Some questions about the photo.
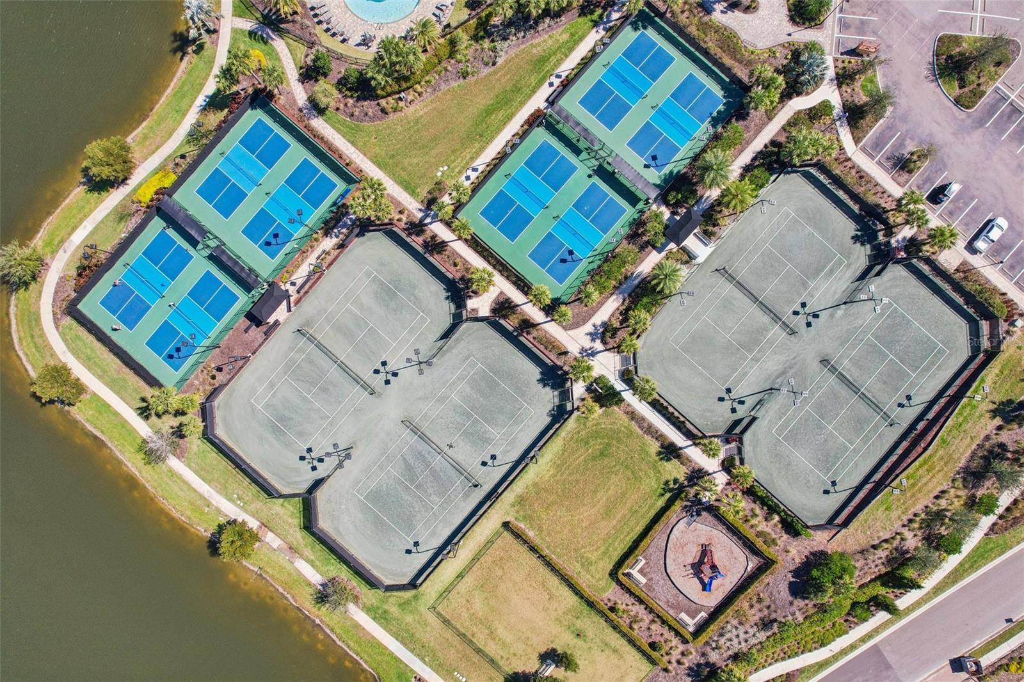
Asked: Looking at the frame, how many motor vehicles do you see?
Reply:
2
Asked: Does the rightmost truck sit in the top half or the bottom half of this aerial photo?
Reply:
top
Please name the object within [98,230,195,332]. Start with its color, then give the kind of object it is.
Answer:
blue sports court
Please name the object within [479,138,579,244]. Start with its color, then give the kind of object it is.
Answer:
blue sports court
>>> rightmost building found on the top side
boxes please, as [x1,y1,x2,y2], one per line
[663,208,703,247]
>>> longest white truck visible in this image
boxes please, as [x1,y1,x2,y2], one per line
[971,217,1011,257]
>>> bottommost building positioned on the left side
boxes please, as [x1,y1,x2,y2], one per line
[251,281,293,322]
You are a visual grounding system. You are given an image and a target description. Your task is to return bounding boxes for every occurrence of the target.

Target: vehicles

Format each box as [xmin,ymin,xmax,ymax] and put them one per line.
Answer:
[971,217,1011,257]
[932,184,957,205]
